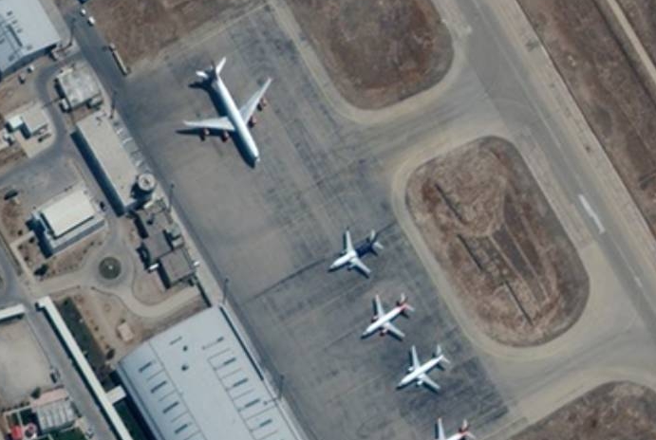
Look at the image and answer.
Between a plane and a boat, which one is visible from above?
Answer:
plane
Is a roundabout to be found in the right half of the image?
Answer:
No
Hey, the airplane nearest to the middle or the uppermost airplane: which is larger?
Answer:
the uppermost airplane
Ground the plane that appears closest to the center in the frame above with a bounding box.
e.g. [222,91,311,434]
[327,230,381,273]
